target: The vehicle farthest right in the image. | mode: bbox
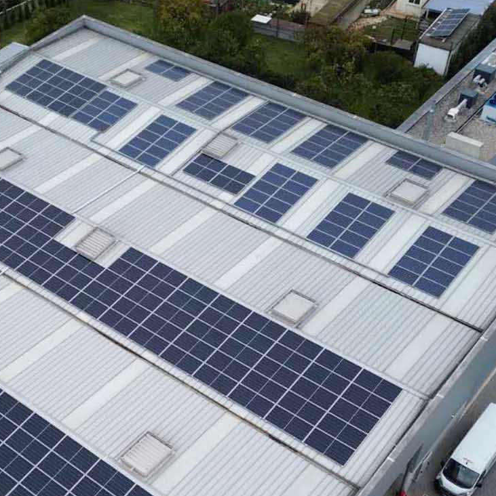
[435,403,496,496]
